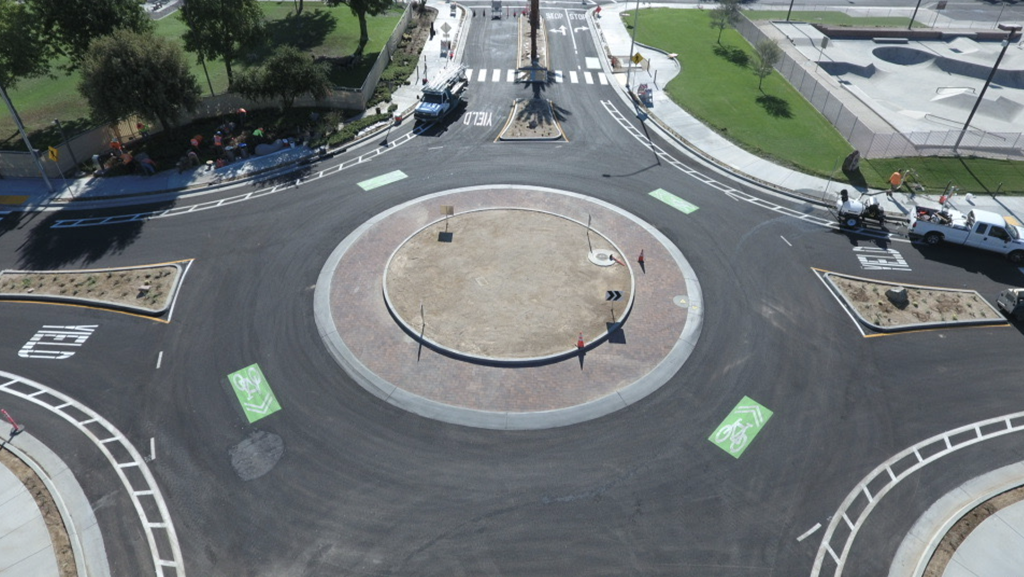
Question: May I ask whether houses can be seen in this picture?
No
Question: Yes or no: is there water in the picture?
No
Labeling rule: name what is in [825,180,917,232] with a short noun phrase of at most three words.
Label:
trailer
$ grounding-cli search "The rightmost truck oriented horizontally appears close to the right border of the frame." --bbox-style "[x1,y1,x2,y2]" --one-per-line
[911,205,1024,264]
